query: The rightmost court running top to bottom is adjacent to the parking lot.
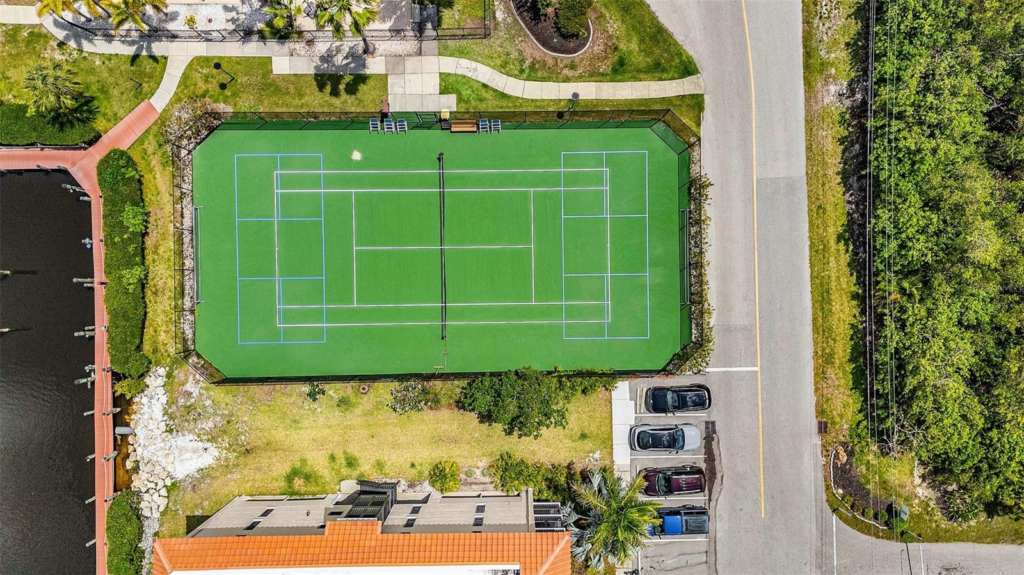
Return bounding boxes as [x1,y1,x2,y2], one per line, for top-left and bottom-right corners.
[561,151,649,339]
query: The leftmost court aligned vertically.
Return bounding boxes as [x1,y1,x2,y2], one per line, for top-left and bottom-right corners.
[235,153,325,344]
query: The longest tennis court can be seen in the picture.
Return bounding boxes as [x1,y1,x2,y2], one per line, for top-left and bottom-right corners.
[191,120,693,378]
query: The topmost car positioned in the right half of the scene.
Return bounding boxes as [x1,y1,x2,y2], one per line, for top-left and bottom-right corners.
[646,386,714,418]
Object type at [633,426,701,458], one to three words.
car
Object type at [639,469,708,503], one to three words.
car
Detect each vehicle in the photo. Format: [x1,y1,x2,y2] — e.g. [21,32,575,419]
[638,507,710,541]
[646,386,714,418]
[633,426,701,458]
[639,469,708,503]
